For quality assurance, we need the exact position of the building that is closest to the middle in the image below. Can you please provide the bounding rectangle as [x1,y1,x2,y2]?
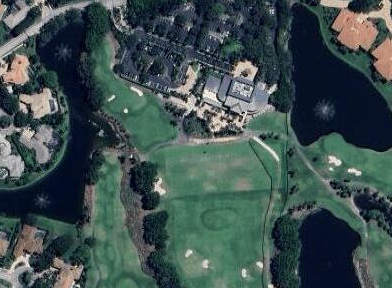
[195,72,255,119]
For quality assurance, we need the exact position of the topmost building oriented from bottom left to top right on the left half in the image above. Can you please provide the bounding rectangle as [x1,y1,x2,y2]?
[3,1,29,26]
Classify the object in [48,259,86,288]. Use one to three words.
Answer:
building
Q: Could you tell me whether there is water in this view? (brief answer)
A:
Yes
